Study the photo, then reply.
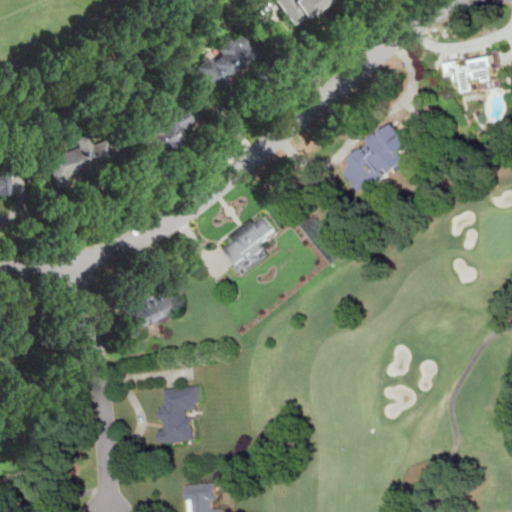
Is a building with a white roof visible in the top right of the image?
Yes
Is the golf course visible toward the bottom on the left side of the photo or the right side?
right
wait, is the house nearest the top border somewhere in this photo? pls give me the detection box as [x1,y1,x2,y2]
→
[274,0,334,28]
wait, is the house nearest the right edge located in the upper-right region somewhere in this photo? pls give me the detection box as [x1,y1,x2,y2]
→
[441,57,492,95]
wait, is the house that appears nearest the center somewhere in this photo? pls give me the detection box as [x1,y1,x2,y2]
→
[218,214,277,265]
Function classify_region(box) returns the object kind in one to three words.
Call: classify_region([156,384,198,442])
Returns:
house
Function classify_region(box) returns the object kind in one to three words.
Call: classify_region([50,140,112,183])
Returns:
house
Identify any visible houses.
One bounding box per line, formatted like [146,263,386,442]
[200,35,256,82]
[218,214,277,265]
[340,129,402,187]
[156,384,198,442]
[441,57,492,95]
[0,176,12,196]
[138,294,180,332]
[50,140,112,183]
[184,486,222,512]
[164,112,197,148]
[274,0,334,28]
